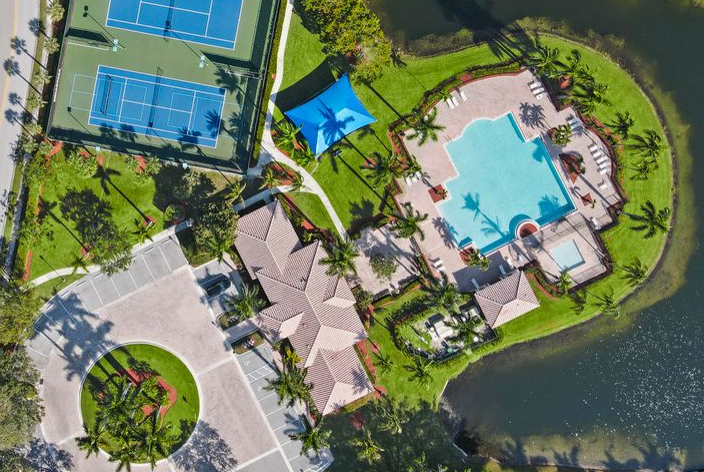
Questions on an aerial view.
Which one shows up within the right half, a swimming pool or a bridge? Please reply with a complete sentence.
Looking within the right half, you will find a swimming pool.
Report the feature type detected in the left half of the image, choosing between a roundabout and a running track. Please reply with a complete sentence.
The feature located in the left half of the image is a roundabout.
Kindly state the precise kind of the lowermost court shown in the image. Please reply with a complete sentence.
The lowermost court can be classified as a tennis court.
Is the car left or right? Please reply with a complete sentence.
The car is on the left side of the image.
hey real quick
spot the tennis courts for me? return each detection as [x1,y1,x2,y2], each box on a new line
[69,0,278,75]
[53,40,264,172]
